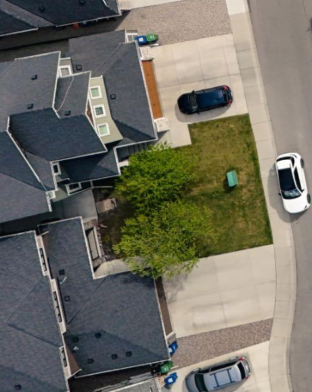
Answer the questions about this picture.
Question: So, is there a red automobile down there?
No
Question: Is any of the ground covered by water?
No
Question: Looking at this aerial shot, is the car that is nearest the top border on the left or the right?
right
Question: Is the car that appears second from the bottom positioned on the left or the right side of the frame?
right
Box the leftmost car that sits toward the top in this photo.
[176,85,234,116]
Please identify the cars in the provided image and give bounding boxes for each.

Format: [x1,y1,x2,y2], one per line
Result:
[186,356,255,392]
[276,150,312,215]
[176,85,234,116]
